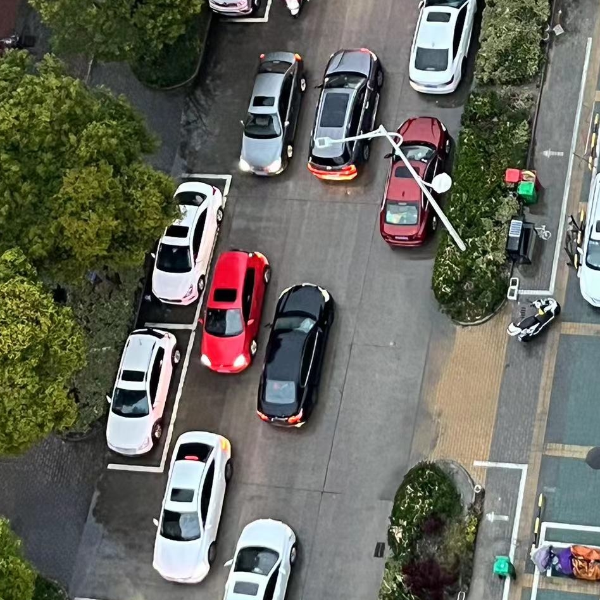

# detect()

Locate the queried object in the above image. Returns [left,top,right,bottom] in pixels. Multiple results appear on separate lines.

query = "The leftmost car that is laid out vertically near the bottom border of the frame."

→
[151,433,235,584]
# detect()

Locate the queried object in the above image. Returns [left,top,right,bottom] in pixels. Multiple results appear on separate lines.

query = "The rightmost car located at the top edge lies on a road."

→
[411,0,483,95]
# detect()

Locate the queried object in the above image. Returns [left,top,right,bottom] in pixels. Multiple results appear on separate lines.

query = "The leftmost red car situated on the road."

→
[199,251,275,377]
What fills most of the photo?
paved ground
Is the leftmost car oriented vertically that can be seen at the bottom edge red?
No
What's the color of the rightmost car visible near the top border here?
white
